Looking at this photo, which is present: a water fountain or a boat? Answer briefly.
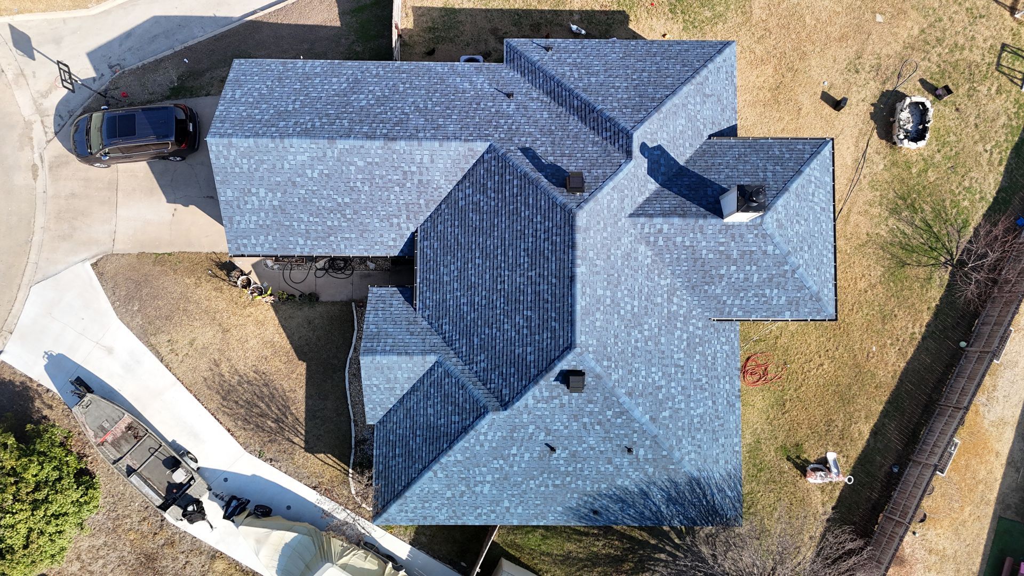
boat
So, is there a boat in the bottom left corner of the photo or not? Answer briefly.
Yes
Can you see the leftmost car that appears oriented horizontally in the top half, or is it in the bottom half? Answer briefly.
top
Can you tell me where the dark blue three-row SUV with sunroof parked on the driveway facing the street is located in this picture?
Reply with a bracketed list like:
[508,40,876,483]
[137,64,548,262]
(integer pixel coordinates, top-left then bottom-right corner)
[73,102,204,166]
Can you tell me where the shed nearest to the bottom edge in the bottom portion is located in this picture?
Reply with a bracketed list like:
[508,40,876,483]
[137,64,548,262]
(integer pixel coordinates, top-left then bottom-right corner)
[483,543,558,576]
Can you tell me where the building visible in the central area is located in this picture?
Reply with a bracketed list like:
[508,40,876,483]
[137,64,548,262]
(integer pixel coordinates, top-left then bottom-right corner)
[205,39,840,529]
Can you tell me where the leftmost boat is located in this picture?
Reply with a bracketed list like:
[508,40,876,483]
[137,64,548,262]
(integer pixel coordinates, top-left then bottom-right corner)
[66,380,218,529]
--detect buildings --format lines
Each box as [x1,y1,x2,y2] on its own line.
[483,543,558,576]
[205,39,840,529]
